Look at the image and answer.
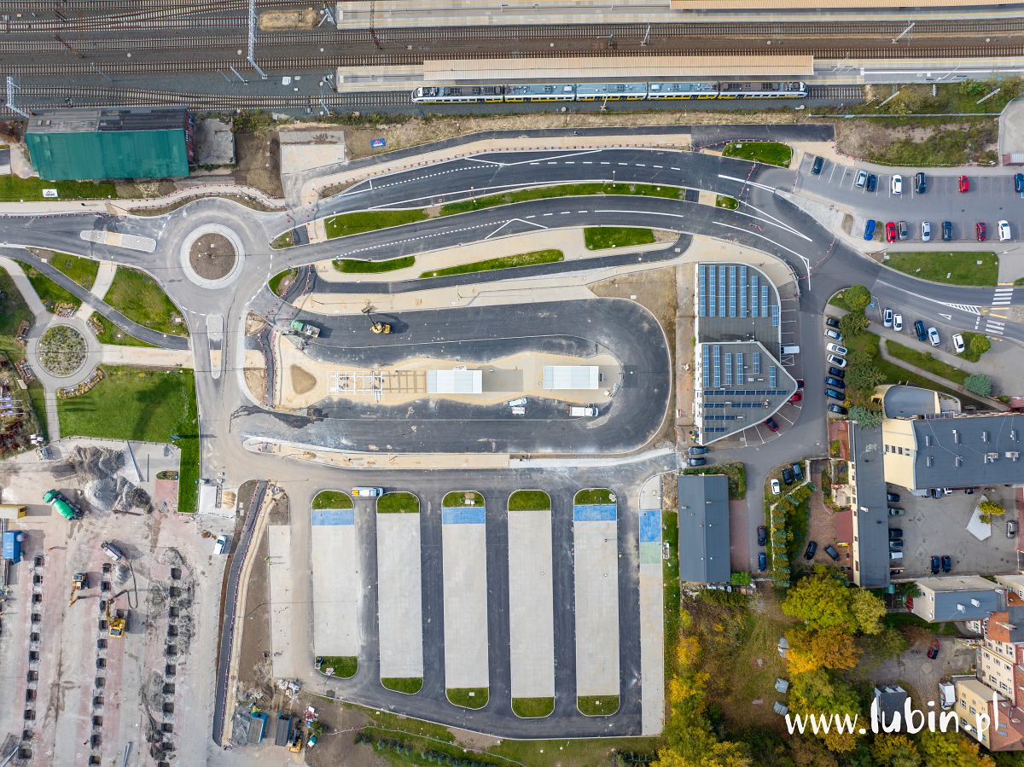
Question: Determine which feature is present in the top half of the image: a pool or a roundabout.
roundabout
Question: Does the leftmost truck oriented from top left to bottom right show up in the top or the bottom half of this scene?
bottom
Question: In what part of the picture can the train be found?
top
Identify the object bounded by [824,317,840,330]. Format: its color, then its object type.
black vehicle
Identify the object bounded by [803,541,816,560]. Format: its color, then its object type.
black vehicle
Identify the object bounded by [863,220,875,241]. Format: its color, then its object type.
blue vehicle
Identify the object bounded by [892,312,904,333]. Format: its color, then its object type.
white vehicle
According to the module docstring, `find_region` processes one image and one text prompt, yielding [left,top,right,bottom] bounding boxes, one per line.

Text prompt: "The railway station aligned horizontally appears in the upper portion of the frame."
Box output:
[337,0,1024,93]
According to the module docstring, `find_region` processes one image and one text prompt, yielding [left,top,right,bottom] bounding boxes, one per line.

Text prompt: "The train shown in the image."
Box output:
[412,81,811,103]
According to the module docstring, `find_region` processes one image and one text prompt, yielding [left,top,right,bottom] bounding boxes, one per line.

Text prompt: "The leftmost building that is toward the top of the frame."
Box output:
[25,106,198,180]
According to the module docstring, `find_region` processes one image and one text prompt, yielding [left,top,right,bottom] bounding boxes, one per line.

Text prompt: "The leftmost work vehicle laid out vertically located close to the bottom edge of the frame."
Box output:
[291,728,304,754]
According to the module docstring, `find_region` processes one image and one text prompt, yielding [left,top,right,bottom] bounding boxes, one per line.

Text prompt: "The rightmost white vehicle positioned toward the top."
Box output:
[997,219,1012,242]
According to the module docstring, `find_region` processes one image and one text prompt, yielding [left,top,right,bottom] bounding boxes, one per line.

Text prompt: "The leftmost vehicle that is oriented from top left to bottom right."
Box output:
[41,487,81,519]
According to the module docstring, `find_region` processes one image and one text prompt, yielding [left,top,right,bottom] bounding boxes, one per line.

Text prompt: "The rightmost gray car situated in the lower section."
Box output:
[1004,519,1017,540]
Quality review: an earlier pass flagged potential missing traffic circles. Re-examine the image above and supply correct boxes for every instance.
[153,197,272,315]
